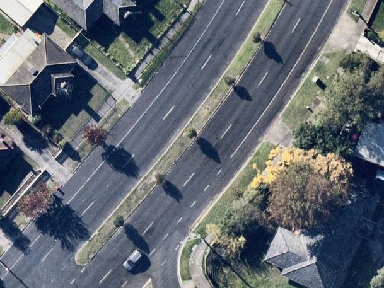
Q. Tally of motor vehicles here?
2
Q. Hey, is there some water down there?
No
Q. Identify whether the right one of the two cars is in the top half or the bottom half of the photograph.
bottom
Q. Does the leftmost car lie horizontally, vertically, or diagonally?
diagonally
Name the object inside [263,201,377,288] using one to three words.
house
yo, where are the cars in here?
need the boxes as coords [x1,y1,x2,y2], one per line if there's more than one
[122,247,144,274]
[72,45,97,70]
